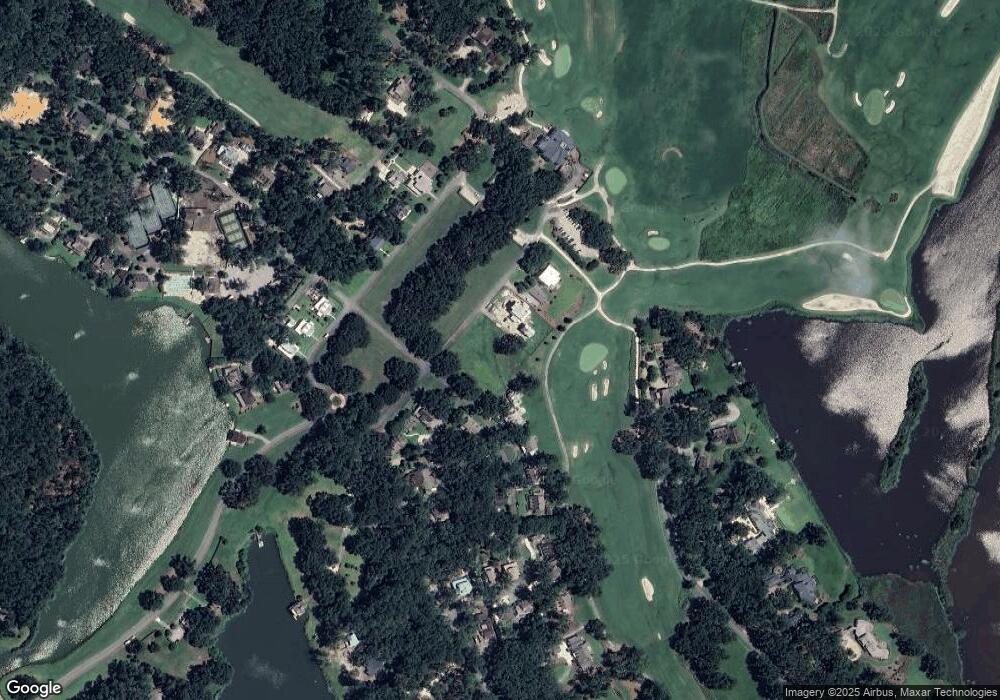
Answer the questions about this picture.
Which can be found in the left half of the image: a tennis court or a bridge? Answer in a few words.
tennis court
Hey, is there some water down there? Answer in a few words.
Yes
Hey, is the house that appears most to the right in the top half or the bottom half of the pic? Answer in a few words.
bottom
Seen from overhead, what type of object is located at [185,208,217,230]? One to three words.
building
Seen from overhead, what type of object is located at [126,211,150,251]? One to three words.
tennis court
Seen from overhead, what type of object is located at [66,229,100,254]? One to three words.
house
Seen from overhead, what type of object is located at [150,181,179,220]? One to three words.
tennis court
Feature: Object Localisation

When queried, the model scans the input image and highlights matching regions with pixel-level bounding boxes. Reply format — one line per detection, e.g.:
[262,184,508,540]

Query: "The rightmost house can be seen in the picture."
[853,618,893,662]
